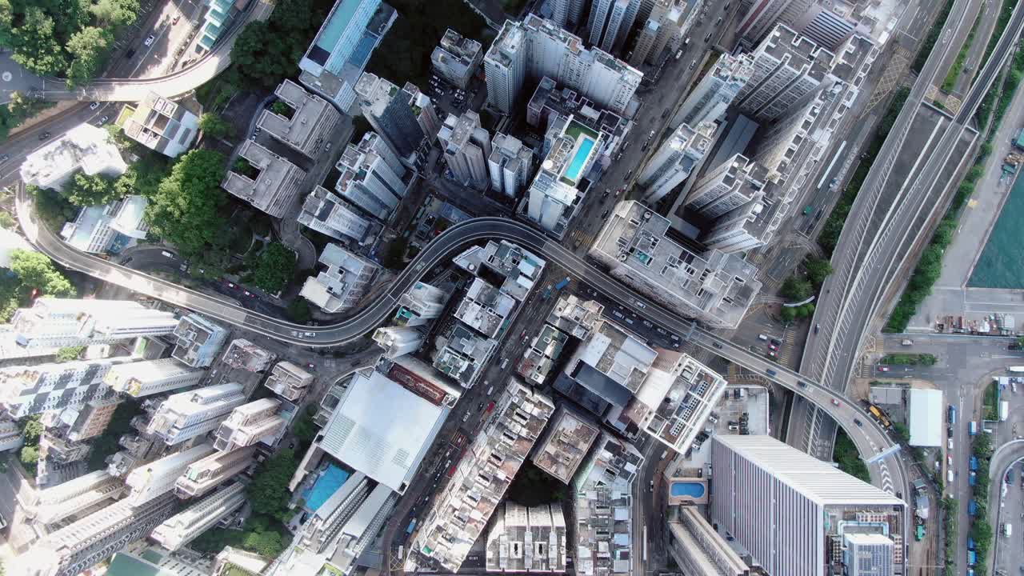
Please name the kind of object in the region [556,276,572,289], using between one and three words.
vehicle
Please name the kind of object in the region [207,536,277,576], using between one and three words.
house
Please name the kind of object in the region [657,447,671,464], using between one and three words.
vehicle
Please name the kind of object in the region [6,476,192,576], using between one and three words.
building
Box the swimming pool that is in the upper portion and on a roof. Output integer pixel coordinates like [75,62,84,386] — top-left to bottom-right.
[565,138,593,180]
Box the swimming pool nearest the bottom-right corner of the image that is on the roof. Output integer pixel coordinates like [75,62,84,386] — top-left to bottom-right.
[672,483,705,498]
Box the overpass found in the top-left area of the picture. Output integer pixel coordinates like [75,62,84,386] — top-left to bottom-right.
[43,0,274,101]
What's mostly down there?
buildings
